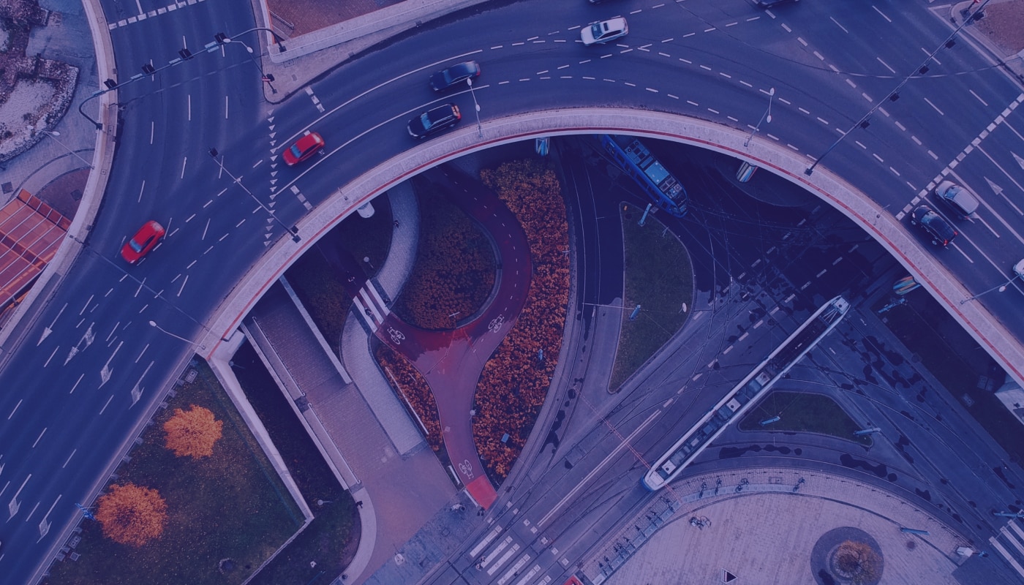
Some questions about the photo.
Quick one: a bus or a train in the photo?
train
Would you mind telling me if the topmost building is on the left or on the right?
right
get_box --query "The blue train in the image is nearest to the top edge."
[587,135,687,226]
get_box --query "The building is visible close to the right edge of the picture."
[994,376,1024,425]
